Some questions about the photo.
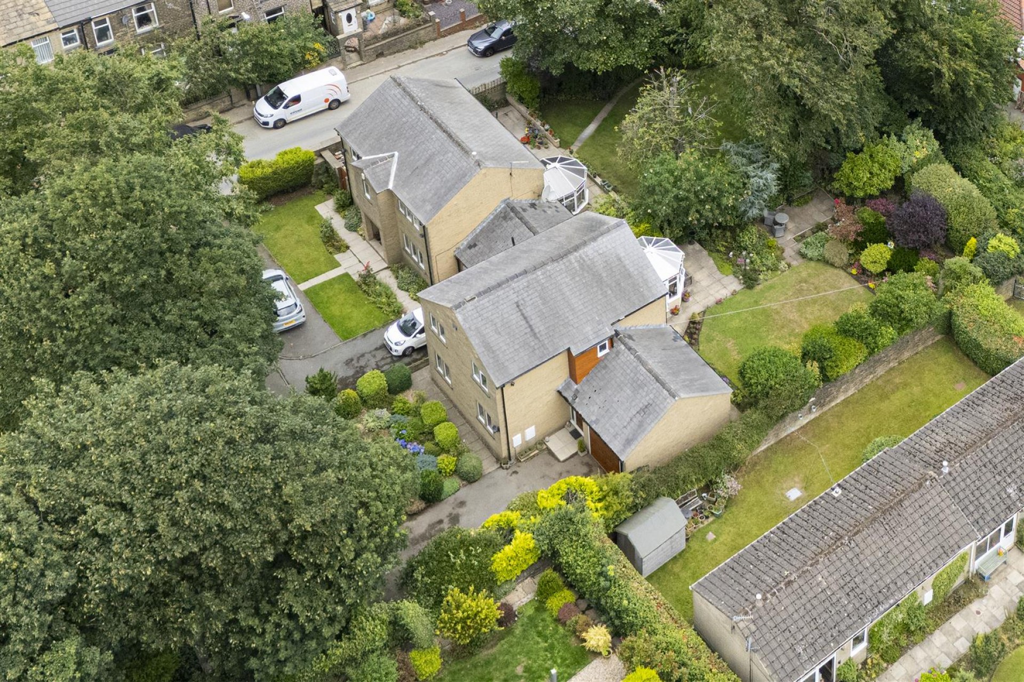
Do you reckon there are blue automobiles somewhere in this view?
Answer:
No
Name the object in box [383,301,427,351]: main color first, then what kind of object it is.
white car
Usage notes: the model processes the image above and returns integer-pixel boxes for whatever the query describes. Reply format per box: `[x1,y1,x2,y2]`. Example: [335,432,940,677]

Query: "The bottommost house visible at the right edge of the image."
[690,343,1024,682]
